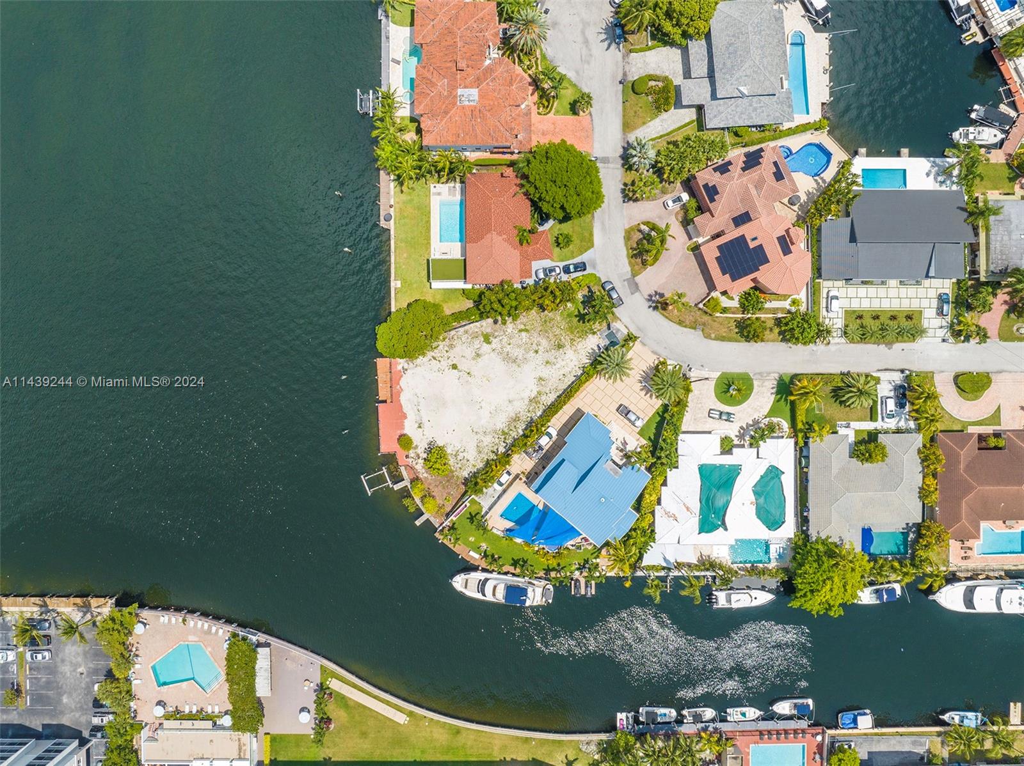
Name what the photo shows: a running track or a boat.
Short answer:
boat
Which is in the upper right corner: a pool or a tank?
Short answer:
pool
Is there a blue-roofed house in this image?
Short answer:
Yes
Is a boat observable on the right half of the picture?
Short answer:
Yes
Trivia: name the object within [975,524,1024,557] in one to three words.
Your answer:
swimming pool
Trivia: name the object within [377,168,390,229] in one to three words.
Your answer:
pier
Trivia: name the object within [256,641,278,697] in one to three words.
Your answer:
building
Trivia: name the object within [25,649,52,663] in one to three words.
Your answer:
car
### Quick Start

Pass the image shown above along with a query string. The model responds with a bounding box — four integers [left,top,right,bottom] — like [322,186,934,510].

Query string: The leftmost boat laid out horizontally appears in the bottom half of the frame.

[447,571,555,608]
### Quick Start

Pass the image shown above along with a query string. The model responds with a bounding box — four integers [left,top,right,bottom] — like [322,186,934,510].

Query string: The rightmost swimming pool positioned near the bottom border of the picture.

[748,742,808,766]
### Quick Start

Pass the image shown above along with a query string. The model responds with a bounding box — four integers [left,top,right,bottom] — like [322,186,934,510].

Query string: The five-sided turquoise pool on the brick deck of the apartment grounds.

[149,641,226,697]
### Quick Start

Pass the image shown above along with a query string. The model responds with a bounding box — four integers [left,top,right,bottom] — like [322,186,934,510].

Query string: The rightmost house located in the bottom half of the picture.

[929,431,1024,539]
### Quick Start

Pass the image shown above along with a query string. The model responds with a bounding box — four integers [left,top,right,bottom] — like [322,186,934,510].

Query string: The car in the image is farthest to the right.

[936,291,951,317]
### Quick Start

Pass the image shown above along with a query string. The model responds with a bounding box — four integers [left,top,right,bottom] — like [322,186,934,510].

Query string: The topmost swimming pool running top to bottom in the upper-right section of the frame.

[787,28,810,116]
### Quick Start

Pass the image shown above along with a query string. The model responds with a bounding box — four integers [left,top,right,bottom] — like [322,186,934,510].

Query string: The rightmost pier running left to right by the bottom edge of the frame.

[635,718,808,734]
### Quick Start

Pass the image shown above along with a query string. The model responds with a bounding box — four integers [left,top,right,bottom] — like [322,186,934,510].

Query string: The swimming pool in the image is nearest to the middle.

[499,491,547,527]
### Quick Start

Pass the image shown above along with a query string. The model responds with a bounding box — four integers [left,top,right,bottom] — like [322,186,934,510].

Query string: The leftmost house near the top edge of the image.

[414,0,530,154]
